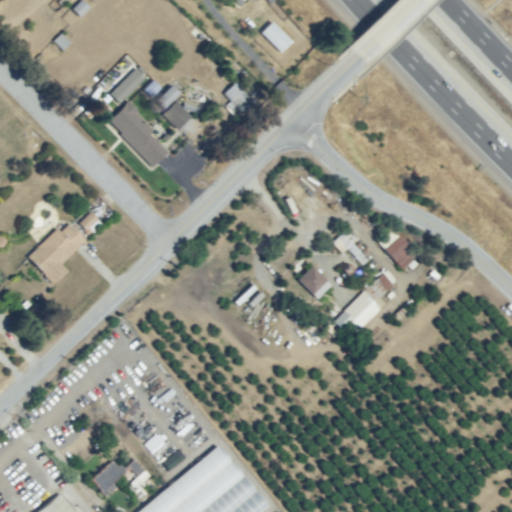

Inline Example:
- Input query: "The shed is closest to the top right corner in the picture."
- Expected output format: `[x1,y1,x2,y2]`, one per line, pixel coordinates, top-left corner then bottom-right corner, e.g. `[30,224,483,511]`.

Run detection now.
[263,21,294,52]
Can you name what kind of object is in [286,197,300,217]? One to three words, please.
vehicle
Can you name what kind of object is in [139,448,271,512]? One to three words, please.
greenhouse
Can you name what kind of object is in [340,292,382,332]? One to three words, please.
barn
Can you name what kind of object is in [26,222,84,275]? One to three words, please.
house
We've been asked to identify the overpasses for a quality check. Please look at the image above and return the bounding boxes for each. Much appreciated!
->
[340,0,443,78]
